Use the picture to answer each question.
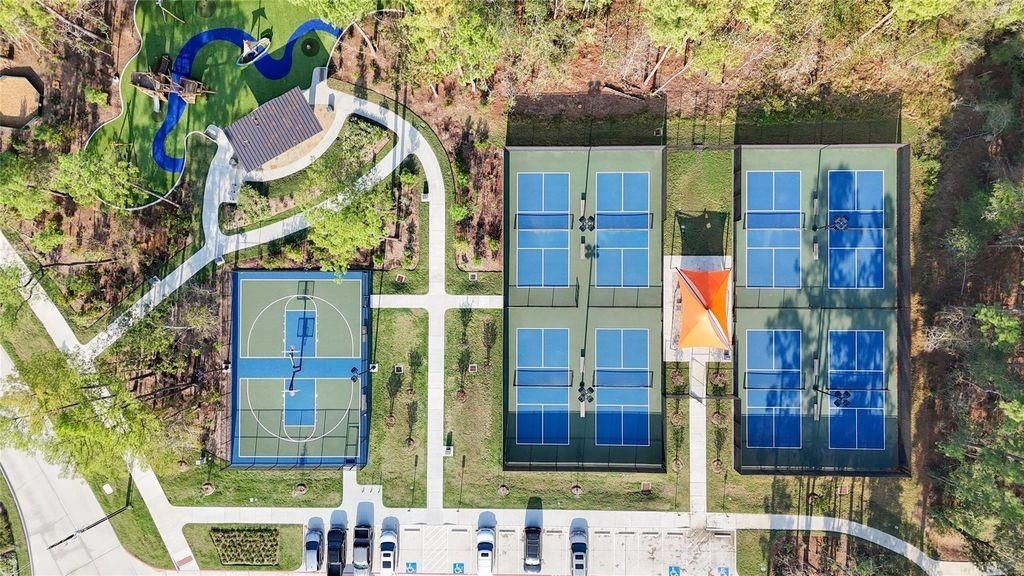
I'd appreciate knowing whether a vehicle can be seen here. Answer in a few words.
Yes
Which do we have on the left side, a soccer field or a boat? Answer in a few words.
boat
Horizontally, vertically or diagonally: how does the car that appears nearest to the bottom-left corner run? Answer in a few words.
vertically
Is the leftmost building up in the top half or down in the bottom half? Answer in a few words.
top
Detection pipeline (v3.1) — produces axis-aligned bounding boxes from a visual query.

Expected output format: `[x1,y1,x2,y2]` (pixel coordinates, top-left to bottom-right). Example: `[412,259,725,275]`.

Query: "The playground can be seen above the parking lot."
[83,0,412,211]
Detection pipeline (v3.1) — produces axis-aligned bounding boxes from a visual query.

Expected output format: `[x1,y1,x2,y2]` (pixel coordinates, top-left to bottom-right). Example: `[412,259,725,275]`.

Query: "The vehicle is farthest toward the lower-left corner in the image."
[302,531,322,573]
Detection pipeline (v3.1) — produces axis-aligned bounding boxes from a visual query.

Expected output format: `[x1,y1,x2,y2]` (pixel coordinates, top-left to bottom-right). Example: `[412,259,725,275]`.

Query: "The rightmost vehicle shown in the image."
[569,533,589,576]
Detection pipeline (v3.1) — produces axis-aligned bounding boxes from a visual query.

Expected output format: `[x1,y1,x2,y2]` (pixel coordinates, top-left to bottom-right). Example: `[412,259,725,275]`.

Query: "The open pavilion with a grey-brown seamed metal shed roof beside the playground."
[224,87,335,173]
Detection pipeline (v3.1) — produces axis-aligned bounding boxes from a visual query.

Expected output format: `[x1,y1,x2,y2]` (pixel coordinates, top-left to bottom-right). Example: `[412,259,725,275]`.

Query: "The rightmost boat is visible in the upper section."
[238,35,268,61]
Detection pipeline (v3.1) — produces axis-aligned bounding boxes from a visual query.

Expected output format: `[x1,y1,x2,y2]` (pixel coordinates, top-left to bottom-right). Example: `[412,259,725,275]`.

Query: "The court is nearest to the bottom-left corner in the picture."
[232,271,370,467]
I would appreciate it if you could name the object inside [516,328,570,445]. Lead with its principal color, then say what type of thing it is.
blue sports court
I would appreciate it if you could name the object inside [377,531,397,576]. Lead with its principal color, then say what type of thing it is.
white car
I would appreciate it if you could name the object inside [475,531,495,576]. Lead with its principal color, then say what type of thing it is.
white car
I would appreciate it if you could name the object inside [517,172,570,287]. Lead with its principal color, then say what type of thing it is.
blue sports court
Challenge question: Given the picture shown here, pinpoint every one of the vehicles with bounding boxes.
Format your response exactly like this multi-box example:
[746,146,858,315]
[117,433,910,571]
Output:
[377,531,397,576]
[302,531,322,573]
[325,530,346,576]
[349,530,371,576]
[569,533,589,576]
[475,531,495,576]
[522,529,542,574]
